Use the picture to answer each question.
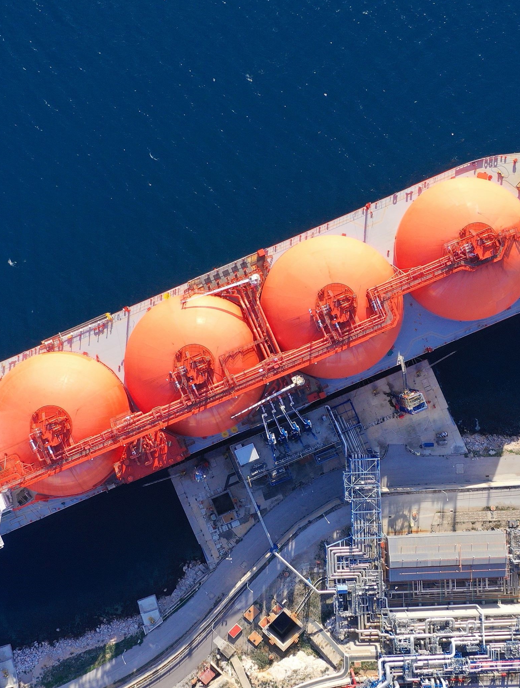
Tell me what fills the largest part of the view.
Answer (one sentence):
Most of the picture is covered by water.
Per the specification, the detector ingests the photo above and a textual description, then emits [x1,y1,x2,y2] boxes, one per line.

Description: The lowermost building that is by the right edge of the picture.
[386,531,507,581]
